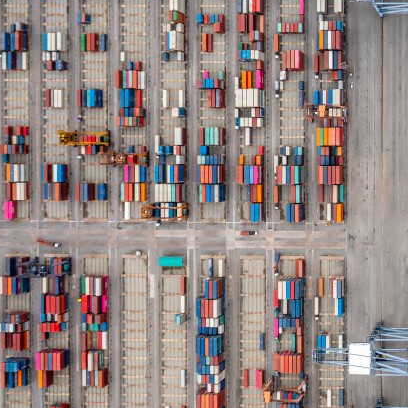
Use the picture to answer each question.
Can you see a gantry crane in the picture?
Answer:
Yes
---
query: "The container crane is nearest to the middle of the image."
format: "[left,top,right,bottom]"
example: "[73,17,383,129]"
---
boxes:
[137,205,188,224]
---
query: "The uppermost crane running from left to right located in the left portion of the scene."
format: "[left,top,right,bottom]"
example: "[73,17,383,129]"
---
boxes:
[55,129,109,147]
